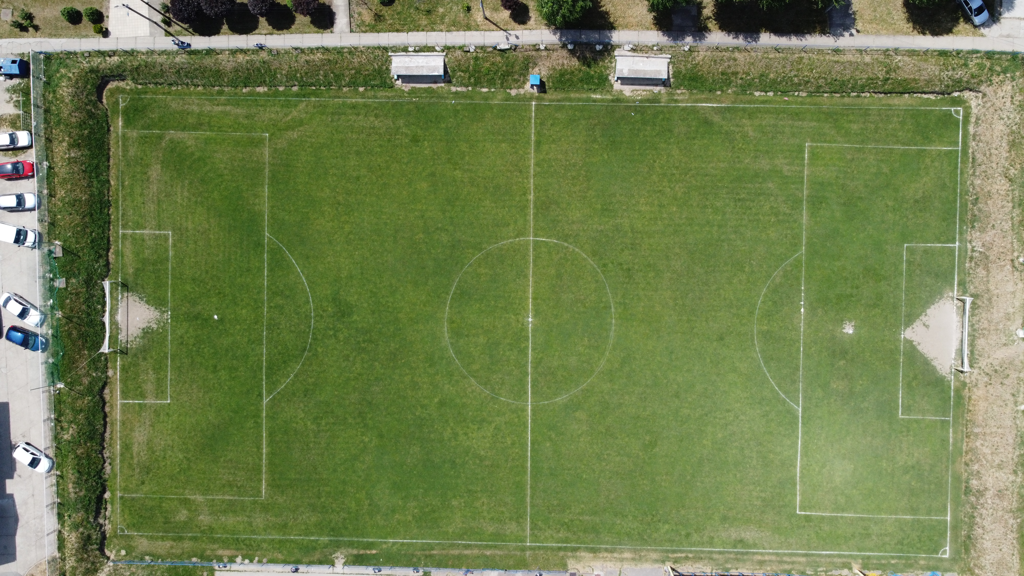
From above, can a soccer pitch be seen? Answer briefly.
Yes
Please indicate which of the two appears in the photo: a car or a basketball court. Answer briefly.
car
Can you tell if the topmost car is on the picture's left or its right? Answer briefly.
right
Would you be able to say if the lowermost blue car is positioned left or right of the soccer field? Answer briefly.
to its left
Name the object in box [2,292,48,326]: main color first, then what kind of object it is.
white car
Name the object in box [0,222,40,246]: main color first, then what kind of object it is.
white car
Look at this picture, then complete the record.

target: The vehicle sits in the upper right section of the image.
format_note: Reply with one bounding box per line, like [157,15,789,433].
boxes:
[954,0,987,26]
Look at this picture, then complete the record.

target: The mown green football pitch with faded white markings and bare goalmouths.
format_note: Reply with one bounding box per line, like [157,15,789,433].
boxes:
[110,82,972,566]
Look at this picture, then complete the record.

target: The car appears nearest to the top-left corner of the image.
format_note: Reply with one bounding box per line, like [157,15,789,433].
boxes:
[0,129,35,151]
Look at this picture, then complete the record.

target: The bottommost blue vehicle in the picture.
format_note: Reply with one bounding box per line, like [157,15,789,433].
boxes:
[6,325,50,351]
